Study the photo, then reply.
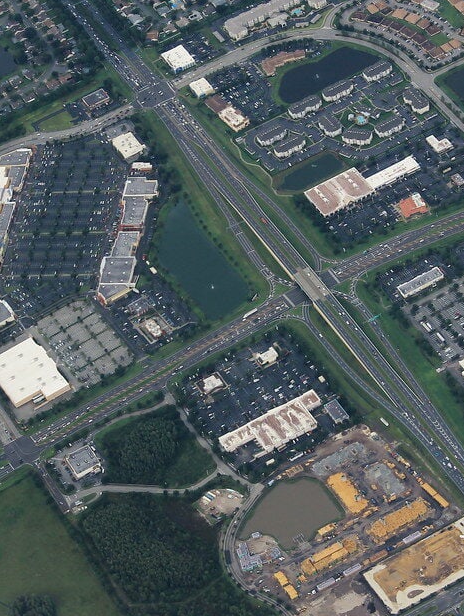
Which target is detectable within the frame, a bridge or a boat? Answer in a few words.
bridge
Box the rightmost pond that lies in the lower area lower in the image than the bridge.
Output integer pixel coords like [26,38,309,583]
[238,477,344,550]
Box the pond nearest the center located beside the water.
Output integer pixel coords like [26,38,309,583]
[156,201,252,318]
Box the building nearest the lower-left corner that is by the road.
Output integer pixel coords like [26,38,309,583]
[67,445,97,477]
